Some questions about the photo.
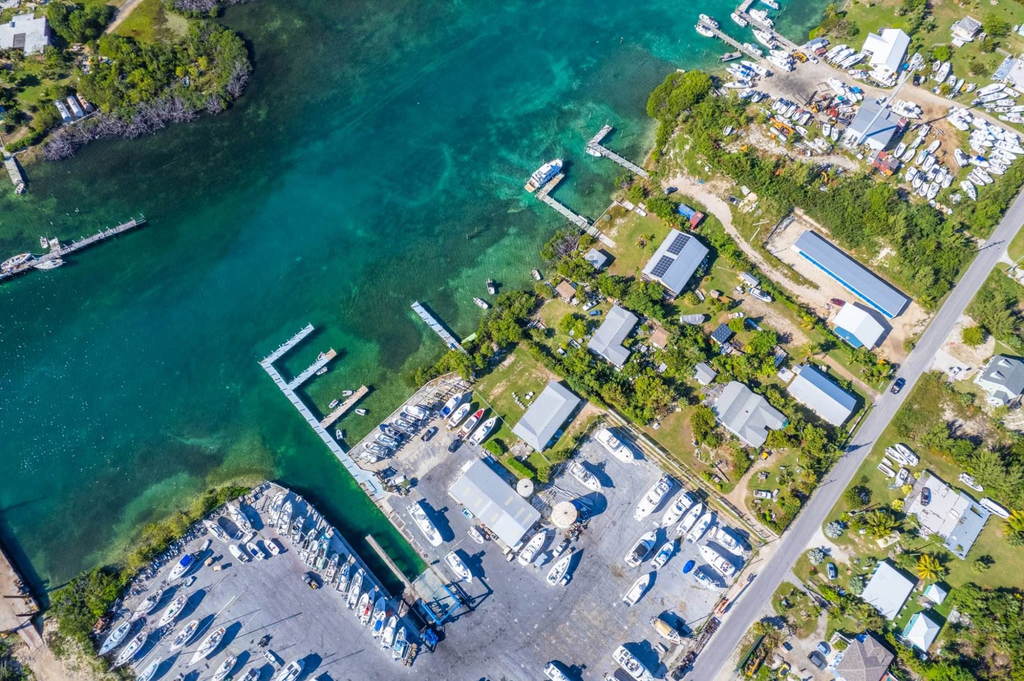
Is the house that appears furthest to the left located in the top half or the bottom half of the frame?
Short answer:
top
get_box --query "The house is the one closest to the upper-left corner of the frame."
[0,13,54,64]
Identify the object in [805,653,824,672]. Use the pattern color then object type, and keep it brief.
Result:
gray car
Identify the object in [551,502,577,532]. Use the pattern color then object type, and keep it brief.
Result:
white water tank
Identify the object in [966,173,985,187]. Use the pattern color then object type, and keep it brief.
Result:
white boat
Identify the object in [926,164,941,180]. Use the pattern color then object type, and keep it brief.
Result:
white boat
